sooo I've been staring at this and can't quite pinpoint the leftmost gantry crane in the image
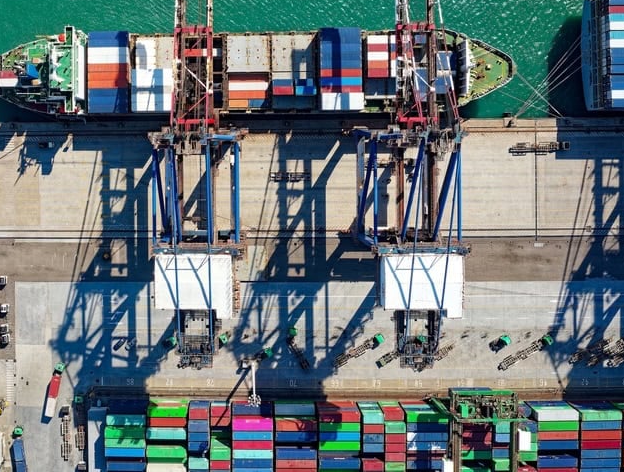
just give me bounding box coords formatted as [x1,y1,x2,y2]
[142,0,256,368]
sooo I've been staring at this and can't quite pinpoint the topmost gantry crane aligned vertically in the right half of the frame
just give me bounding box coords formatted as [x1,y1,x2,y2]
[334,0,468,368]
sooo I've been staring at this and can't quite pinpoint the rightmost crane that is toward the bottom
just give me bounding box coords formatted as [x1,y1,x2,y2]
[431,389,531,472]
